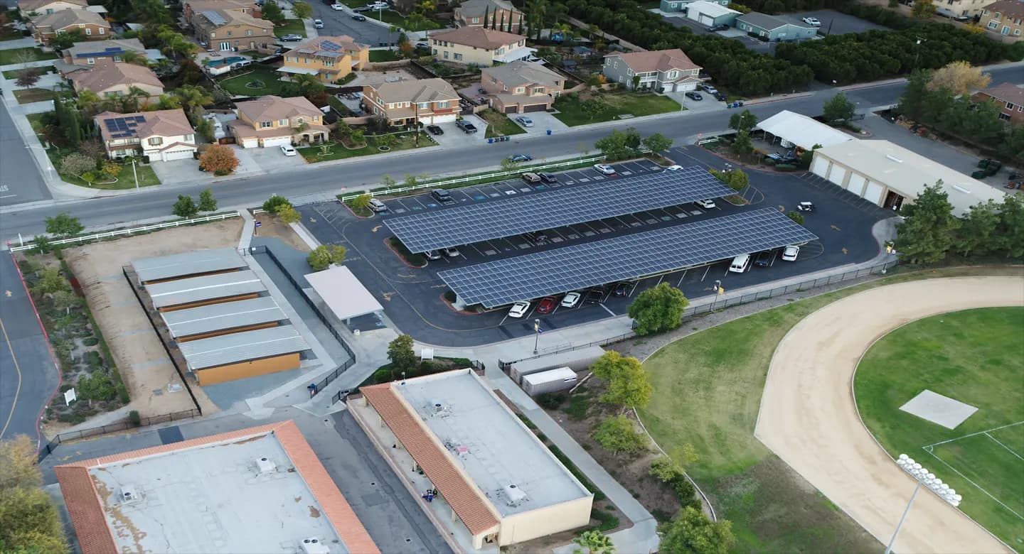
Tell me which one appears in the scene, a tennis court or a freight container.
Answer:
freight container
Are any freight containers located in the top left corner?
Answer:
No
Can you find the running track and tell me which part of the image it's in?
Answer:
bottom right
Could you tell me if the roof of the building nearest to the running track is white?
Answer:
Yes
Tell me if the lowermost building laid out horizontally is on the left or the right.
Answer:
left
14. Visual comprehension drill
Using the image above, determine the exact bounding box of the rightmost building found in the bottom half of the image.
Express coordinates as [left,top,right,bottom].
[357,367,594,554]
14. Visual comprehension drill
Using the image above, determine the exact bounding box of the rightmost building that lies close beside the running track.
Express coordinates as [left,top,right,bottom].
[808,137,1024,244]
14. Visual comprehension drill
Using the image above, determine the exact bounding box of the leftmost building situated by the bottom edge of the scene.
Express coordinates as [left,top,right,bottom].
[55,417,381,554]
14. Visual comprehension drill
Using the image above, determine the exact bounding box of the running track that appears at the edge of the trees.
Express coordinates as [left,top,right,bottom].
[755,276,1024,554]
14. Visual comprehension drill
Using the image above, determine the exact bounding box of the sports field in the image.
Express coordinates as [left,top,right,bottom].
[853,306,1024,554]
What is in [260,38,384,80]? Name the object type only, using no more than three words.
house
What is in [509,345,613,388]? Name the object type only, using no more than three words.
shipping container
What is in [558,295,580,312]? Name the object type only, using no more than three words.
car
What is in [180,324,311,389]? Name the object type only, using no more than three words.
shed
